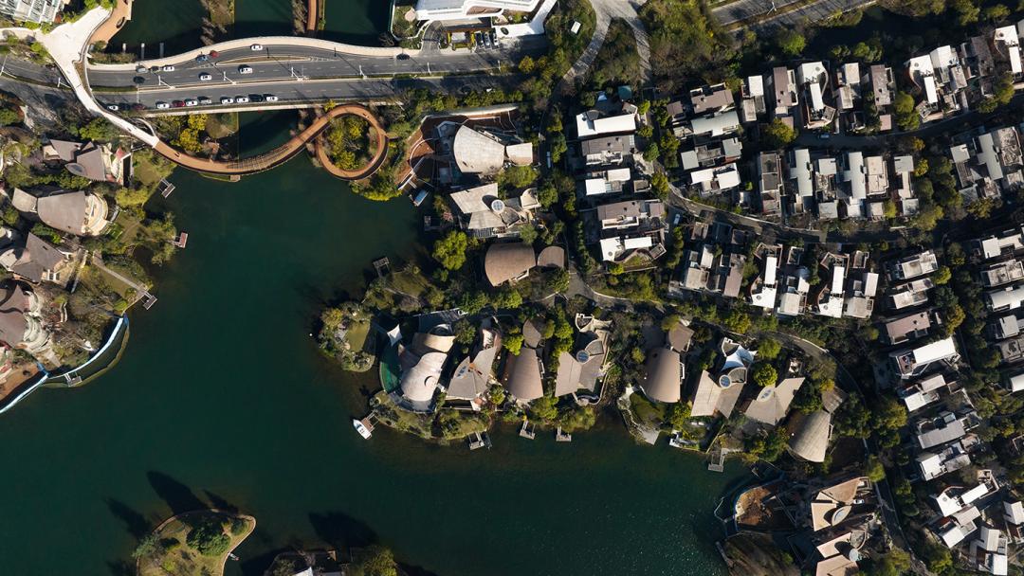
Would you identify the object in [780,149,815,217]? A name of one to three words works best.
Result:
house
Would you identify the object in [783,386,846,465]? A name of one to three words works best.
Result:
house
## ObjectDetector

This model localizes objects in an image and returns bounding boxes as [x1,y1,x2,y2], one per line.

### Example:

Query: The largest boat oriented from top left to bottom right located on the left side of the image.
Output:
[354,420,370,440]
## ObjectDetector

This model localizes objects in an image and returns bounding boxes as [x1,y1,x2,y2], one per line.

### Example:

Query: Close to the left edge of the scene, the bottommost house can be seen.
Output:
[0,284,72,374]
